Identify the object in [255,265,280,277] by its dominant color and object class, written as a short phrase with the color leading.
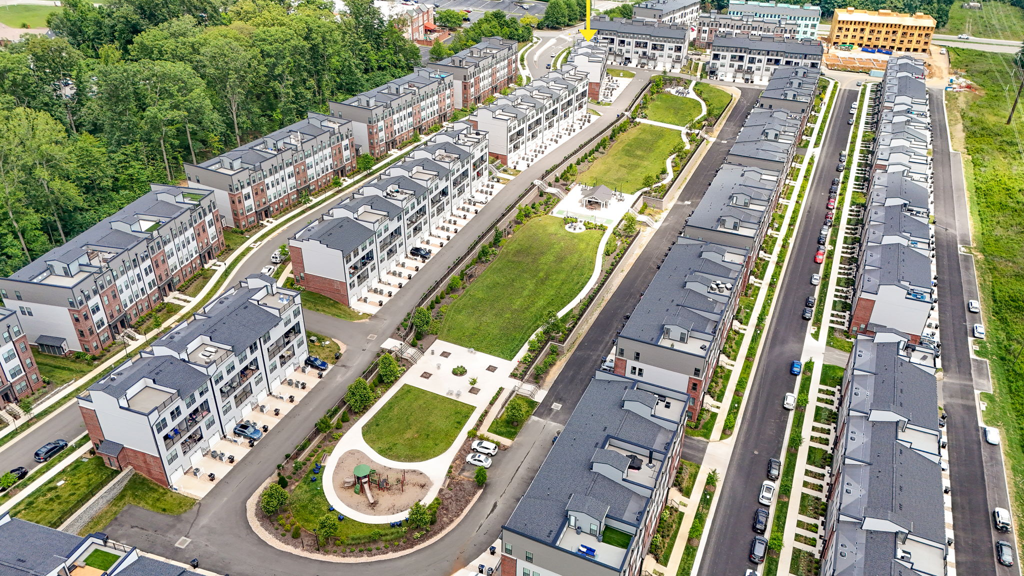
white vehicle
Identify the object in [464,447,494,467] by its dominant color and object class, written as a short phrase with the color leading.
white car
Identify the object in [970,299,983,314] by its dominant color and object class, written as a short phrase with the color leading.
white vehicle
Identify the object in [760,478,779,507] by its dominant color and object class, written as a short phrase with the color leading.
white car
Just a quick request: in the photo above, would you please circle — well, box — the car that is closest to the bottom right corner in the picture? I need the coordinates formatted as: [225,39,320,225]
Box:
[999,540,1020,571]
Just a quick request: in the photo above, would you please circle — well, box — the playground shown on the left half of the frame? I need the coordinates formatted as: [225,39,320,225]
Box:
[348,471,405,505]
